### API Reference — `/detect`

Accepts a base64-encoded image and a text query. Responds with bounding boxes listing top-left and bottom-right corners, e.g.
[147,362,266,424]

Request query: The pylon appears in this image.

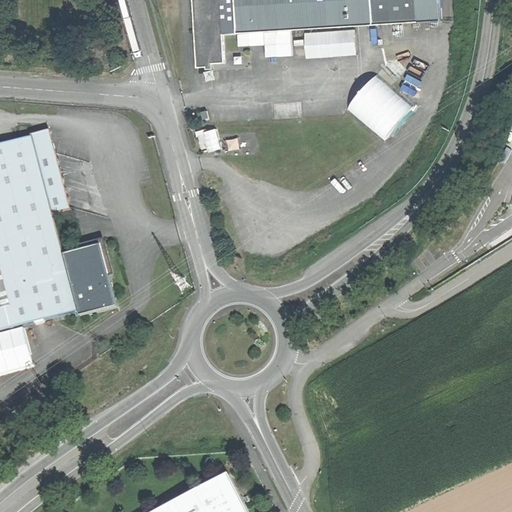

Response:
[166,268,194,296]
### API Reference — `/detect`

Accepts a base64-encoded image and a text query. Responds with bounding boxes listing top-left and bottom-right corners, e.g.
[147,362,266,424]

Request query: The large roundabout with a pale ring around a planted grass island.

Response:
[182,284,296,398]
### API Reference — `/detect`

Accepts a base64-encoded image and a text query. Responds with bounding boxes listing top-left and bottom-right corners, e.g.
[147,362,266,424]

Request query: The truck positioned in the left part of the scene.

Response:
[118,0,142,60]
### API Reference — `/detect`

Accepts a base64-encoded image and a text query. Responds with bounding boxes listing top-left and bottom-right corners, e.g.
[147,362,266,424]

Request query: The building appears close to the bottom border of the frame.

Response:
[150,472,250,512]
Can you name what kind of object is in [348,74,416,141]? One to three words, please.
hangar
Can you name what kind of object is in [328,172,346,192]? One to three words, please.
vehicle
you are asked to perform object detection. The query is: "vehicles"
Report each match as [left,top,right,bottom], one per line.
[118,0,142,60]
[501,145,512,163]
[342,177,352,190]
[328,172,346,192]
[358,160,366,170]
